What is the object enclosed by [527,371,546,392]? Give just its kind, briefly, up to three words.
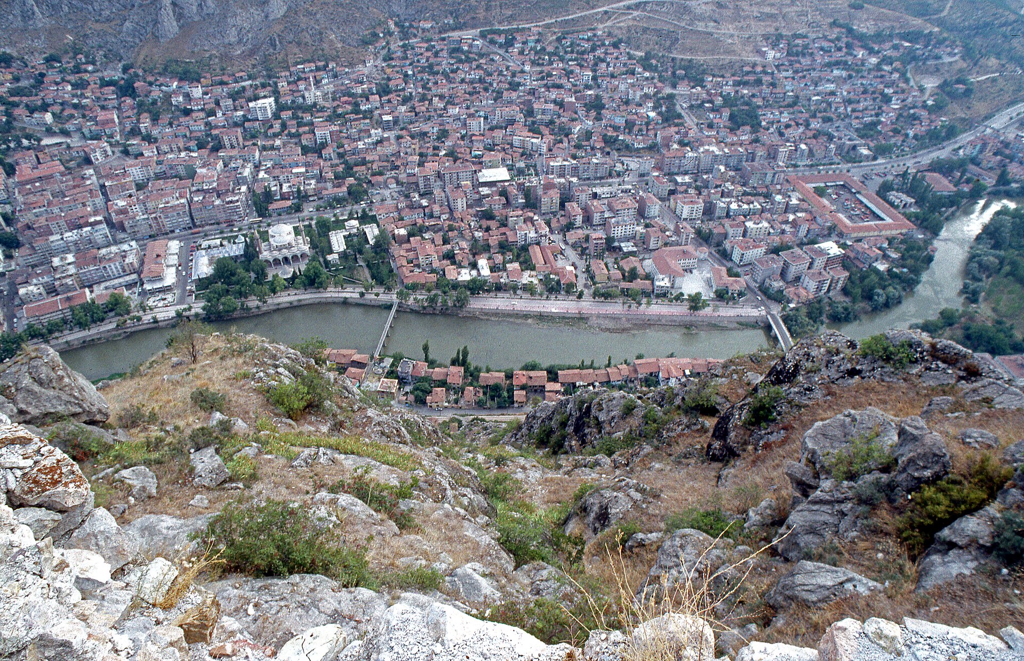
house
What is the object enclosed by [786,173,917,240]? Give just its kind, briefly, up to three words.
building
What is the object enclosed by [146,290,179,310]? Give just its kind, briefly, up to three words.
house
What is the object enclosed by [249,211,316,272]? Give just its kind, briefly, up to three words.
building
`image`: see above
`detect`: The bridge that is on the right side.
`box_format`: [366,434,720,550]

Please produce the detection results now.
[762,313,789,348]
